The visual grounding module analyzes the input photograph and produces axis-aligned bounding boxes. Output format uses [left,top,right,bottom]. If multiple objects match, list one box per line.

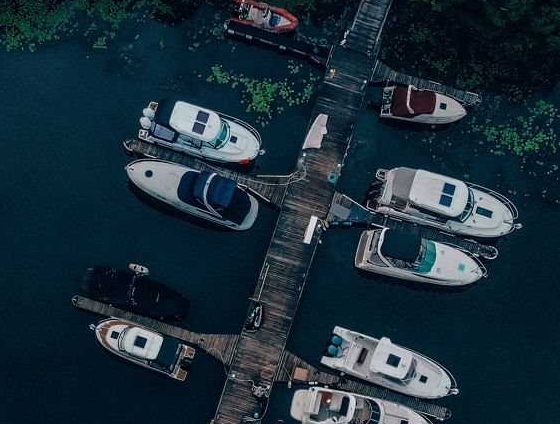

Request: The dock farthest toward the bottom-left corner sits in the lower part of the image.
[71,294,240,367]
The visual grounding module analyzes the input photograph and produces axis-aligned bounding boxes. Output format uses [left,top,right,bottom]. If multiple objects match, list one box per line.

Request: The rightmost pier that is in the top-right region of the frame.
[371,61,480,107]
